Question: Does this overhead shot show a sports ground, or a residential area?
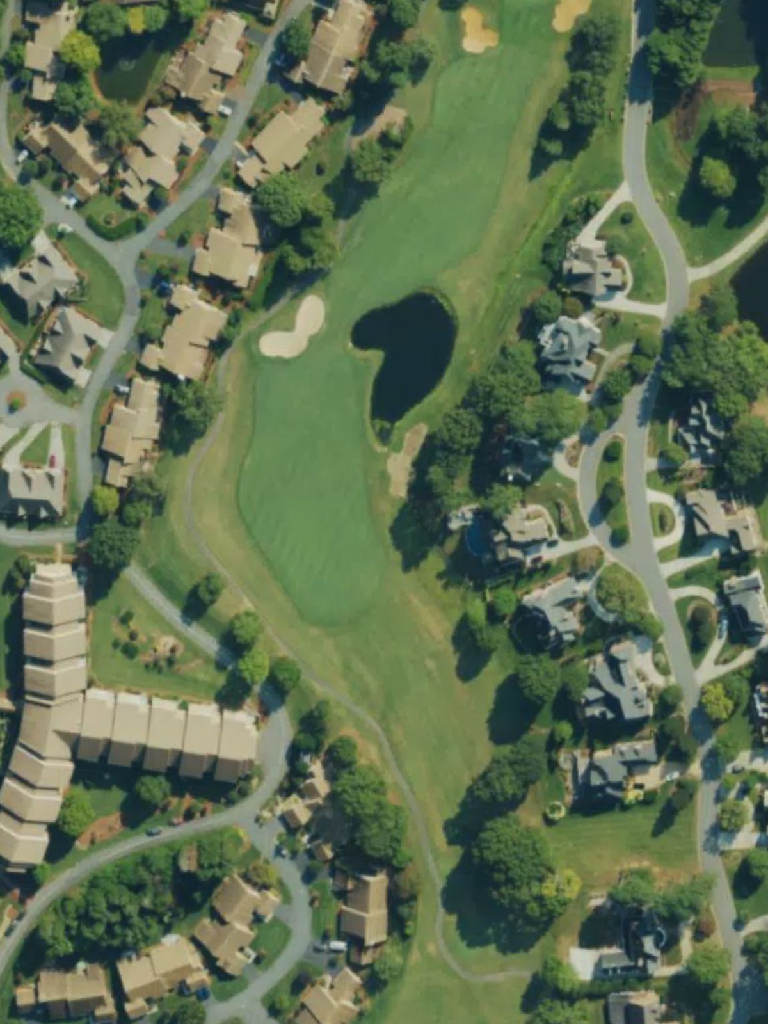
residential area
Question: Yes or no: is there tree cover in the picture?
Yes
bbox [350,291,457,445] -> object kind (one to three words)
pond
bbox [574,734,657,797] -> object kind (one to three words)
house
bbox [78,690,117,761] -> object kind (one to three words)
house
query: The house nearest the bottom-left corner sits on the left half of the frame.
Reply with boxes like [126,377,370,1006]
[15,956,117,1021]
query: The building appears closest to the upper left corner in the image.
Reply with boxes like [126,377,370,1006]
[22,2,79,103]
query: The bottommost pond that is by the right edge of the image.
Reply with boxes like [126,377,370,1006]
[731,243,768,347]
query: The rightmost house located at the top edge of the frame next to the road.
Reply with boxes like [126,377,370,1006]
[288,0,378,95]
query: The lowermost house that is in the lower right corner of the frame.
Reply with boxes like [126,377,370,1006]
[608,985,665,1024]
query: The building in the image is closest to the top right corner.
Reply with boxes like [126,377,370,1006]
[563,238,623,297]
